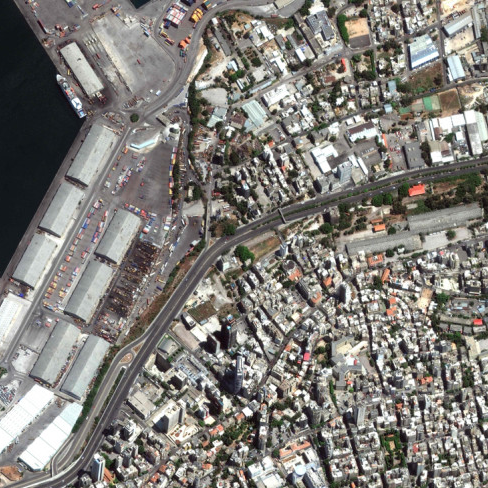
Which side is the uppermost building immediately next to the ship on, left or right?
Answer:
left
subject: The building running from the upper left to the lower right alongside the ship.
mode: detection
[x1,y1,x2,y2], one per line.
[60,42,104,97]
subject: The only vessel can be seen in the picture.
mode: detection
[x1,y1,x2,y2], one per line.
[57,74,87,121]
